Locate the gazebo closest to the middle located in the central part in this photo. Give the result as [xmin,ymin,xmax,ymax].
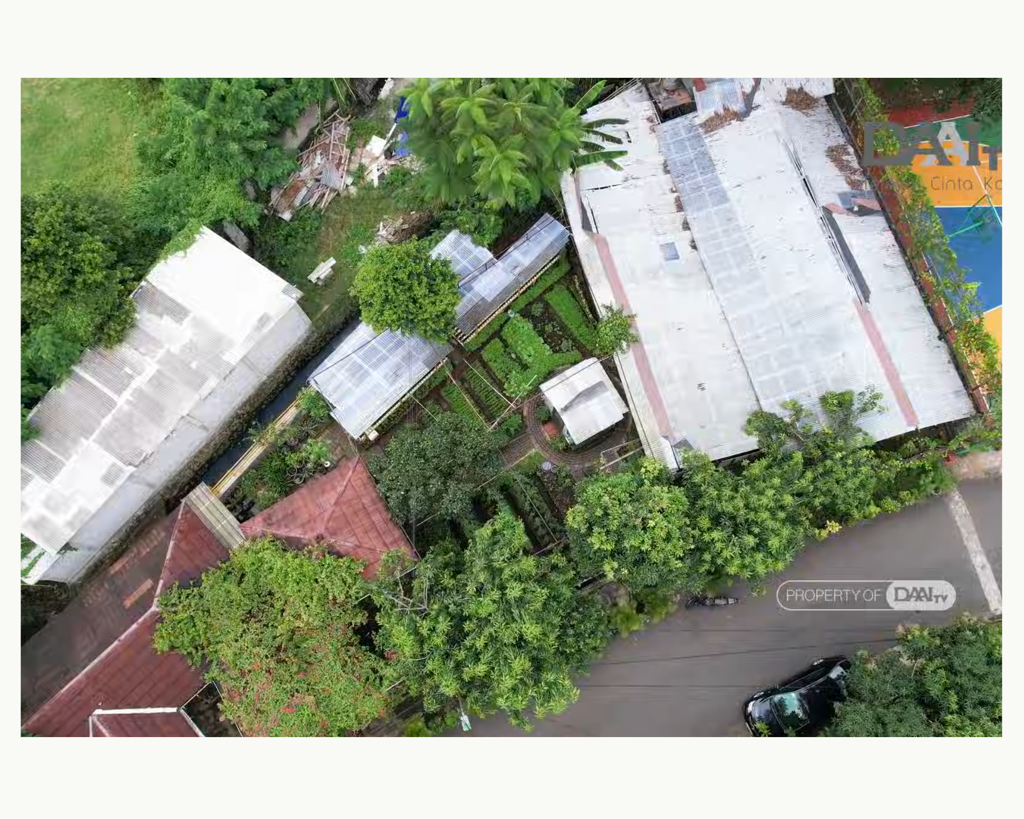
[541,358,629,444]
